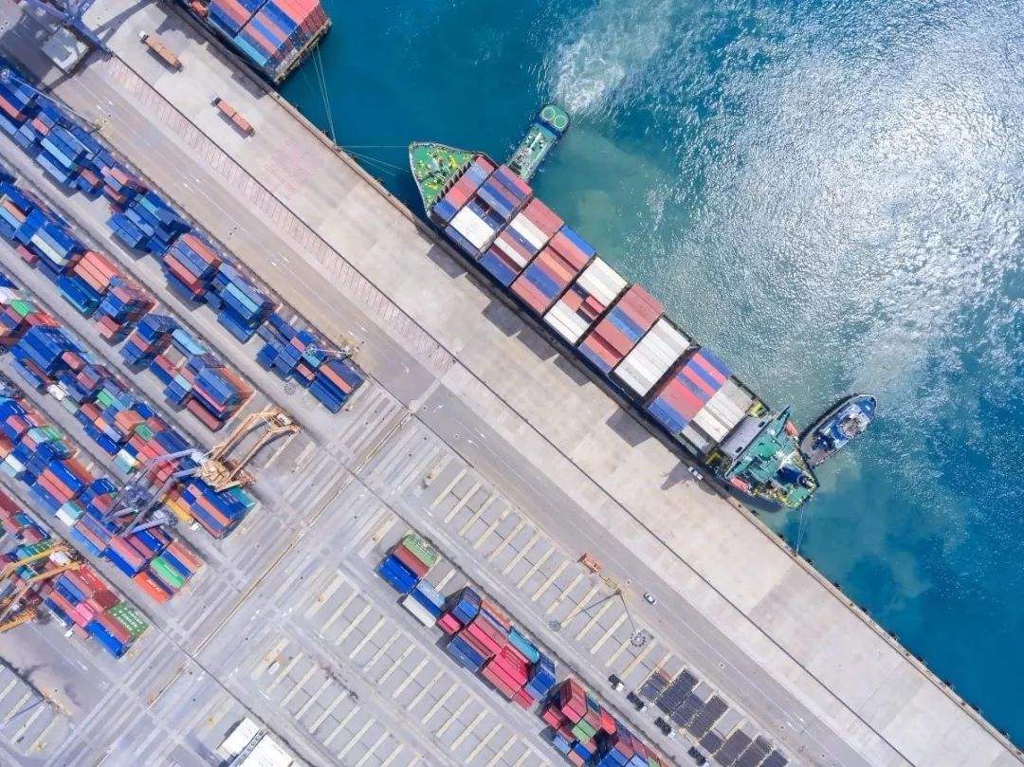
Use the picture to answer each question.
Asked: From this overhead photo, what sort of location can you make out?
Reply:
port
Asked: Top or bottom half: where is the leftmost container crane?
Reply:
bottom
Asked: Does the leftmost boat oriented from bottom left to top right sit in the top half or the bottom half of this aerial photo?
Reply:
top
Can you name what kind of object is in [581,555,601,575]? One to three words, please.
vehicle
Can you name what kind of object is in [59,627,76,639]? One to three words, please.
vehicle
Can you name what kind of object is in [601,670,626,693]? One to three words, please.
truck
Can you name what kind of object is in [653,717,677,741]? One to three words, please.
truck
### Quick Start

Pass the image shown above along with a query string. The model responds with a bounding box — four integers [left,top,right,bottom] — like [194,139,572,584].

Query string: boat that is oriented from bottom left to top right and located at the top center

[500,99,566,185]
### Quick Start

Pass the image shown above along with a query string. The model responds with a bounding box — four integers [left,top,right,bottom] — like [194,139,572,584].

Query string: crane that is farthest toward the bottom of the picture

[0,543,78,637]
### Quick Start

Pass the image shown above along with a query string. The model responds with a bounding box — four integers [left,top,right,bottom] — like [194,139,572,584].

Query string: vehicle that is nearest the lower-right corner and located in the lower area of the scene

[688,747,712,767]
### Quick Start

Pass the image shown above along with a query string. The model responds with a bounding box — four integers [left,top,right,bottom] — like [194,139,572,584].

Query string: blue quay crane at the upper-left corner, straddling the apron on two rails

[40,0,120,59]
